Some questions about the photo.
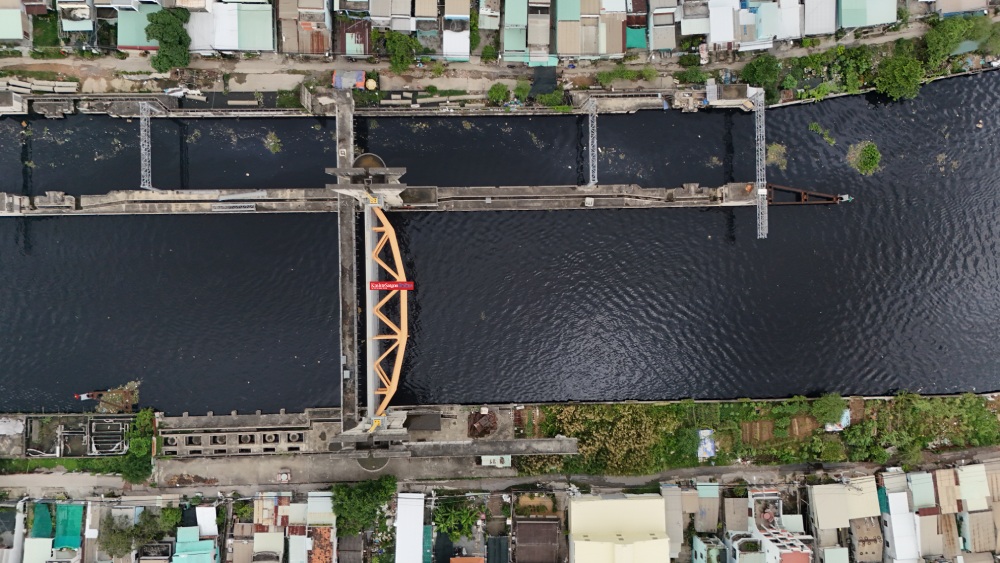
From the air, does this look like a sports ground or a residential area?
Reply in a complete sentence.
It's a residential area.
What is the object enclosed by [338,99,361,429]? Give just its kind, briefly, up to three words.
bridge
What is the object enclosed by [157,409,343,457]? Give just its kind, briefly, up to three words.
building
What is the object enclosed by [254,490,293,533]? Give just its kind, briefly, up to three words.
house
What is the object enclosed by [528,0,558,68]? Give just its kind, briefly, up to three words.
house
